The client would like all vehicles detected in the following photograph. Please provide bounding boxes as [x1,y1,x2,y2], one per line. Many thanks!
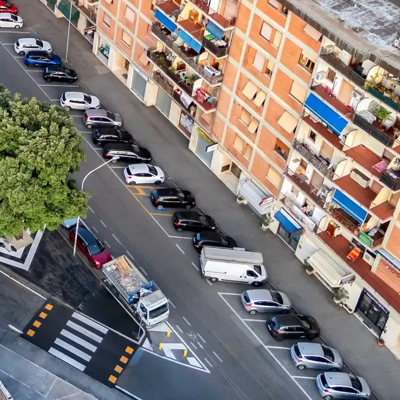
[101,259,174,340]
[310,371,376,400]
[13,35,54,56]
[238,288,295,315]
[23,47,64,68]
[0,0,20,16]
[0,13,24,31]
[53,205,87,244]
[264,312,324,344]
[57,88,103,111]
[41,64,80,86]
[149,186,197,210]
[167,207,222,234]
[101,141,153,165]
[195,241,270,288]
[90,123,137,148]
[122,164,167,186]
[78,105,128,130]
[285,341,349,373]
[68,223,112,271]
